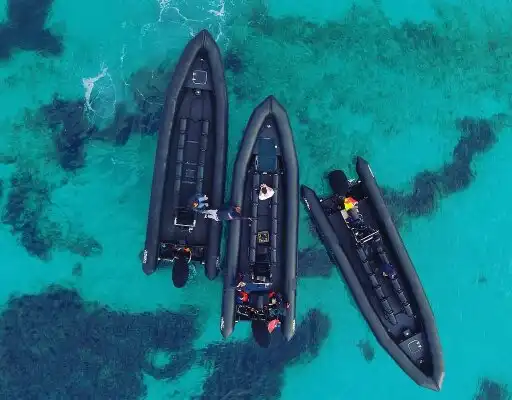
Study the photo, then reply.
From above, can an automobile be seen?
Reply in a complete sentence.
No, no automobile is visible in the view.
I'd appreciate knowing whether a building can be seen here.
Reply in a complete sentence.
No, the photo shows no building.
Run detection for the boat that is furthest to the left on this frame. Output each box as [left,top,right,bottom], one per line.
[142,28,232,286]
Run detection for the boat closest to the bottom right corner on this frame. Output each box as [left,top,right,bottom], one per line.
[303,159,448,392]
